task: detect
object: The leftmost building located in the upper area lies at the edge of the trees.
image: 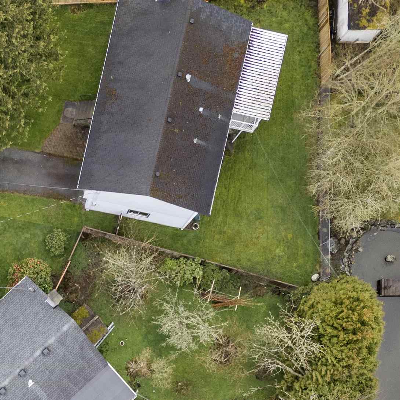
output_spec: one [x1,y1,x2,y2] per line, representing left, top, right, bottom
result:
[76,0,256,231]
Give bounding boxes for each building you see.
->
[0,275,137,400]
[76,0,256,231]
[333,0,390,48]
